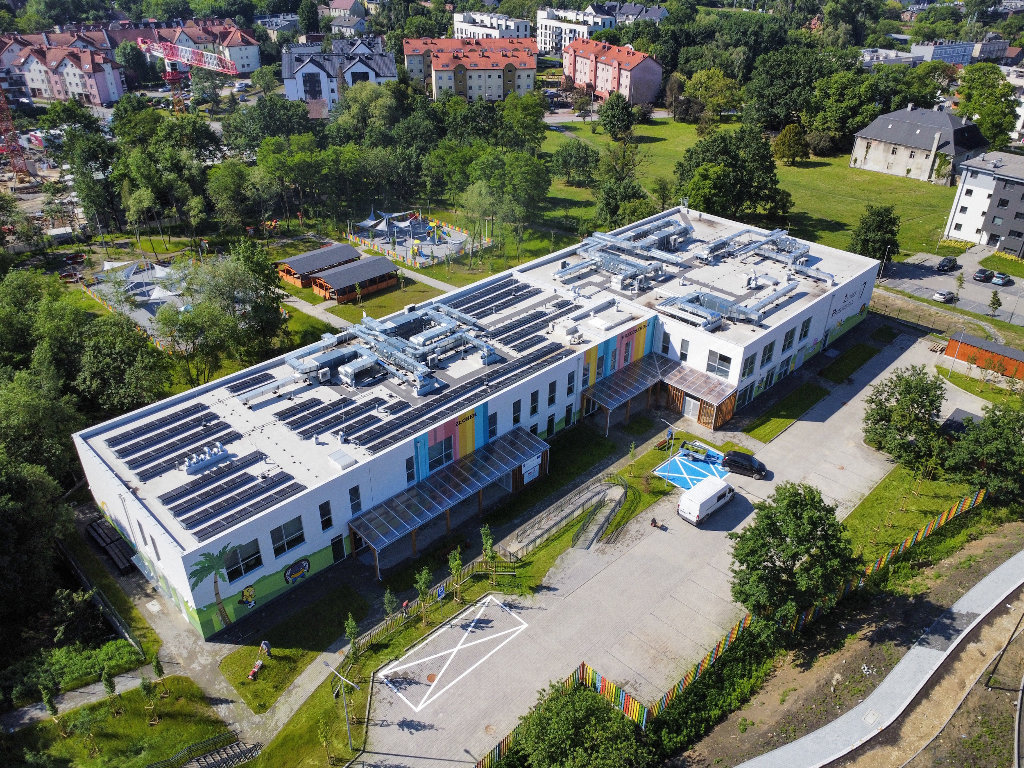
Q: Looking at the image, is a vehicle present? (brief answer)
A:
Yes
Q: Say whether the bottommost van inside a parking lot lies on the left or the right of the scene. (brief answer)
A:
right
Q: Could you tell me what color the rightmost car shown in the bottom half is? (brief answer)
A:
black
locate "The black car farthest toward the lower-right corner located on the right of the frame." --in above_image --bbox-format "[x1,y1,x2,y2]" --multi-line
[724,449,770,478]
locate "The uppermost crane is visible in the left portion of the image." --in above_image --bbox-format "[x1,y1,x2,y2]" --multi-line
[137,39,241,116]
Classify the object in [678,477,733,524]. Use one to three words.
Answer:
van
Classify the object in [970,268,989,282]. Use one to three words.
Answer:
car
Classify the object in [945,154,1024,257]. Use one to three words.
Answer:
building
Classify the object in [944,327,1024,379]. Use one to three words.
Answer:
shed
